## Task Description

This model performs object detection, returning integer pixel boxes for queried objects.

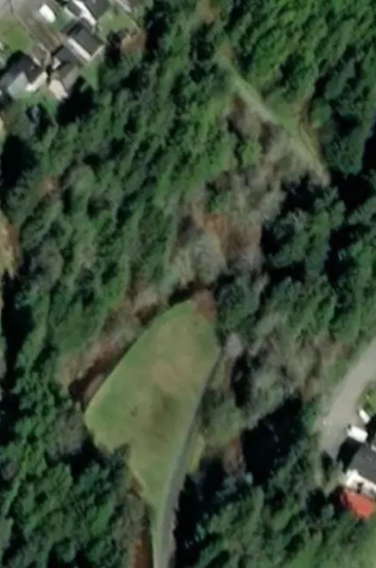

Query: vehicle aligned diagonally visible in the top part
[39,2,55,20]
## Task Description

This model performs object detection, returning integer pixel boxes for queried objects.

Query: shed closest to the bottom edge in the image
[338,487,376,518]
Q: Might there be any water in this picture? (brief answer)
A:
No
